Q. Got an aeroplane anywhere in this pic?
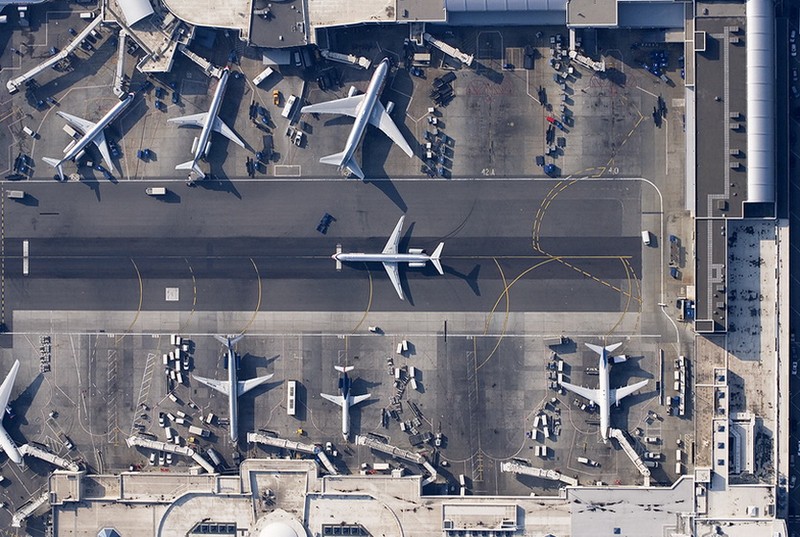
Yes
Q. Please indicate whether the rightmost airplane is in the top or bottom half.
bottom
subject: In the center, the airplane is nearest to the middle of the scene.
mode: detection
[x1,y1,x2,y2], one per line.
[332,217,445,299]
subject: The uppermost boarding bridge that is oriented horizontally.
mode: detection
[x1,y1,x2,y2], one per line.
[320,48,374,70]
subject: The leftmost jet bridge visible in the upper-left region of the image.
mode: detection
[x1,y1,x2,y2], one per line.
[5,11,104,95]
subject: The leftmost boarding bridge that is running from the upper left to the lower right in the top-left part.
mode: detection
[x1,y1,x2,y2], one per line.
[177,42,228,82]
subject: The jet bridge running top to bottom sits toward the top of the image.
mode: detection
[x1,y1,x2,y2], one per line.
[112,28,130,98]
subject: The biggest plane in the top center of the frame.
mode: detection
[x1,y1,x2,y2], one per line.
[302,58,413,180]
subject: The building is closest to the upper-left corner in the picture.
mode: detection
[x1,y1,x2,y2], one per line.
[103,0,196,73]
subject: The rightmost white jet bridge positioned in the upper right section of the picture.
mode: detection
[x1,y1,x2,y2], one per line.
[567,27,610,72]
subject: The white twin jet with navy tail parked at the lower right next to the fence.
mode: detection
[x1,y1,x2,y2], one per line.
[562,344,649,443]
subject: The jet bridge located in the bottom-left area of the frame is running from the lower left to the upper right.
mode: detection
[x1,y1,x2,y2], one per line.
[9,491,51,532]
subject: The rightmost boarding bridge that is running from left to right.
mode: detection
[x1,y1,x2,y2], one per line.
[497,460,578,486]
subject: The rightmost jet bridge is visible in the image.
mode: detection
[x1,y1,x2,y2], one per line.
[607,427,651,487]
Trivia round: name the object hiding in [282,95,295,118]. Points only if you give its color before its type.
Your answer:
white vehicle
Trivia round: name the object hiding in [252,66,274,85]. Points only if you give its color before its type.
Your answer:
white vehicle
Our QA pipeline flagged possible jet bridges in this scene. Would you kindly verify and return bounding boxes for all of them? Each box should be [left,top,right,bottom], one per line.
[354,434,440,487]
[5,11,104,95]
[9,491,51,532]
[497,460,578,486]
[320,48,374,70]
[15,443,80,472]
[423,31,477,71]
[567,27,610,72]
[607,427,651,487]
[123,434,214,474]
[177,42,228,82]
[243,430,337,475]
[112,28,130,98]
